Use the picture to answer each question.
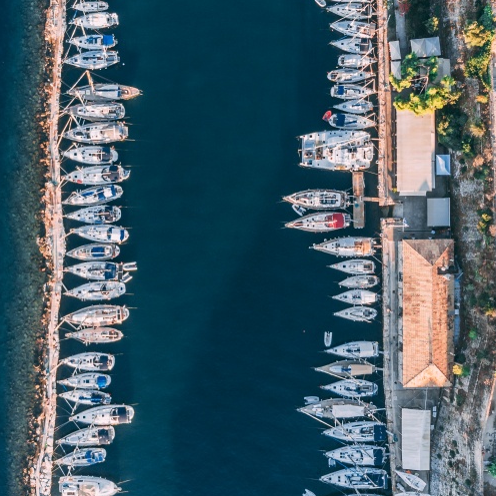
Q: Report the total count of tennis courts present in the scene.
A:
0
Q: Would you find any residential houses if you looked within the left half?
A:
No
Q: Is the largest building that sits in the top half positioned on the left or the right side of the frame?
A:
right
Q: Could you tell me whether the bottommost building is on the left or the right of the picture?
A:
right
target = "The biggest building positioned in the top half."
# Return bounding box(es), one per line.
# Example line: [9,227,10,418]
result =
[391,109,435,196]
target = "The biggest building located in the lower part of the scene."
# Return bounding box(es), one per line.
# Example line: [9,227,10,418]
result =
[399,236,460,388]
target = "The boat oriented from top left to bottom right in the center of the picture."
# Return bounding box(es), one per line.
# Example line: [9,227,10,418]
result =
[292,204,306,218]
